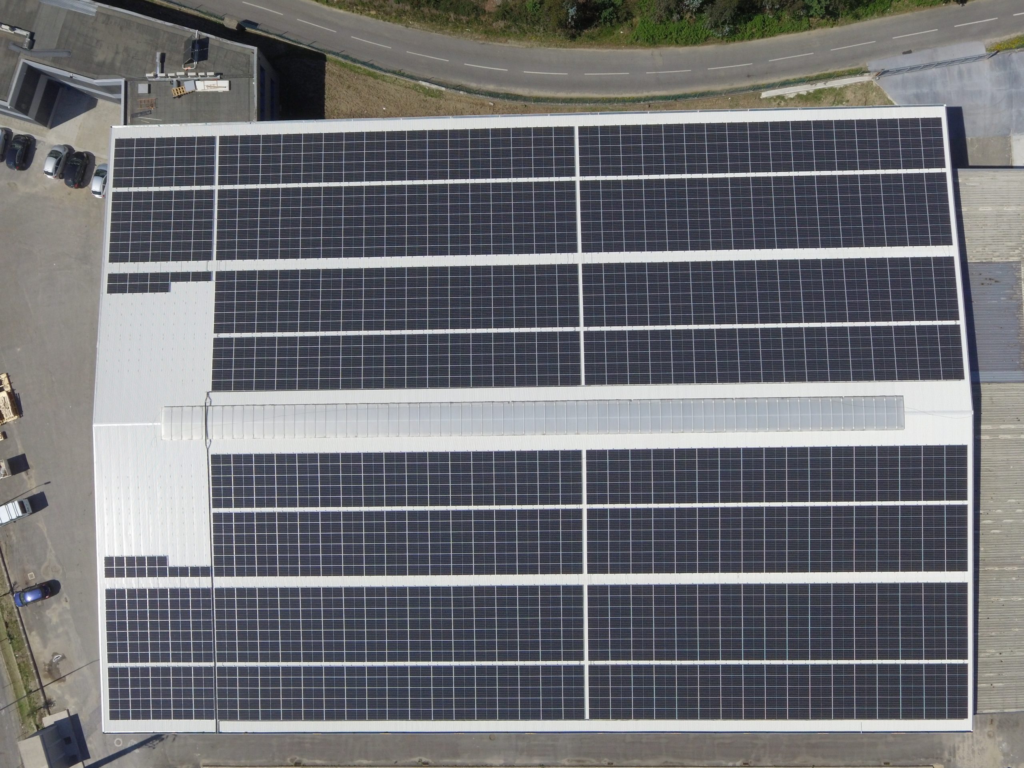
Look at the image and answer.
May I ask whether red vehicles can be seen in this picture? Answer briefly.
No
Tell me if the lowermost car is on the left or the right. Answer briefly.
left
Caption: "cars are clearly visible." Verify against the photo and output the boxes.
[63,152,89,191]
[89,163,107,200]
[13,581,55,605]
[43,145,71,181]
[0,128,12,165]
[5,135,31,173]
